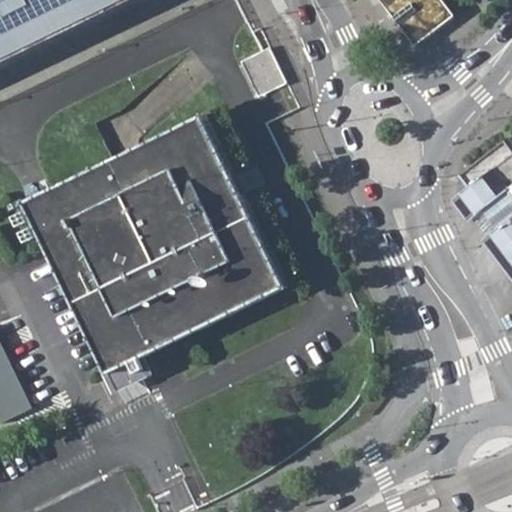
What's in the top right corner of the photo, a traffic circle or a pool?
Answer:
traffic circle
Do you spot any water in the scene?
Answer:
No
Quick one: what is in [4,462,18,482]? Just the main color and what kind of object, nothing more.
white car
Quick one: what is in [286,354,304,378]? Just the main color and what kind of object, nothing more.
white car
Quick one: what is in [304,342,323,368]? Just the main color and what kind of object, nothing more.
white vehicle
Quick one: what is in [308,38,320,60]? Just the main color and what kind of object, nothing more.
gray vehicle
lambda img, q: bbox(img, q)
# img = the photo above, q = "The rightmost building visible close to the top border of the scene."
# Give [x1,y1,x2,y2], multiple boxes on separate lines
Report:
[378,0,453,42]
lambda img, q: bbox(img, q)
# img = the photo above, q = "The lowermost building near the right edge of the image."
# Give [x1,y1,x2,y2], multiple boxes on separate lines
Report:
[484,220,512,288]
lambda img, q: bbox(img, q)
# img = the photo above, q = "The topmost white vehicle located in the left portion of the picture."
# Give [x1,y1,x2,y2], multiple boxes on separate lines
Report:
[30,264,54,280]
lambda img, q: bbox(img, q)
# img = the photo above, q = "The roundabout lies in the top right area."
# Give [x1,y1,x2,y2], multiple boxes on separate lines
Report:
[336,79,422,189]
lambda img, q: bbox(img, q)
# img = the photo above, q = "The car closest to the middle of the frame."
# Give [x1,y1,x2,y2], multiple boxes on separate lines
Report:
[274,198,288,217]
